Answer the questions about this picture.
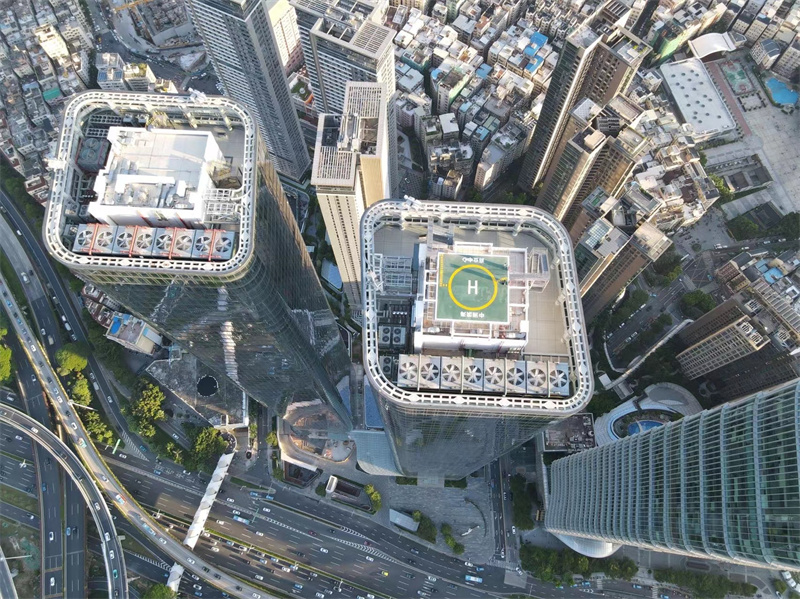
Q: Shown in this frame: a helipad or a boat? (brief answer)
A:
helipad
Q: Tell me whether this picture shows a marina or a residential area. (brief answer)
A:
residential area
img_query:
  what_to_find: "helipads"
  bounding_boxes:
[415,239,531,353]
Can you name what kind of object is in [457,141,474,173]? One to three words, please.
house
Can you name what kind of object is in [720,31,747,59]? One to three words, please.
house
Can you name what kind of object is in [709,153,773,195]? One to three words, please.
building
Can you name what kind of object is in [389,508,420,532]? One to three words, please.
building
